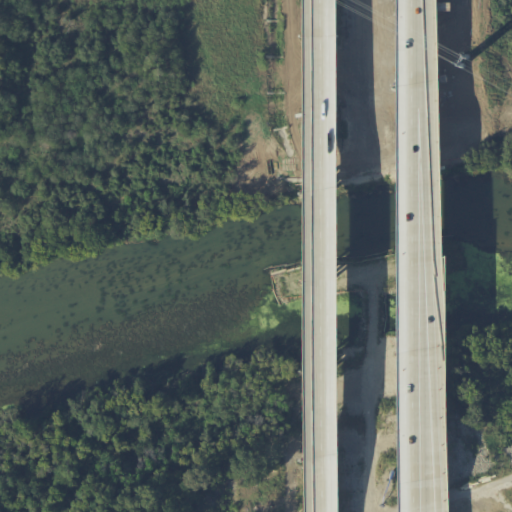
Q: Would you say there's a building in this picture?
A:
No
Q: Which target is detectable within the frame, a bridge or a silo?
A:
bridge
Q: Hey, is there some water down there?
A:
Yes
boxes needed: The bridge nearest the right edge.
[394,0,452,512]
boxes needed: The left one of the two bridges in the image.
[296,0,338,512]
